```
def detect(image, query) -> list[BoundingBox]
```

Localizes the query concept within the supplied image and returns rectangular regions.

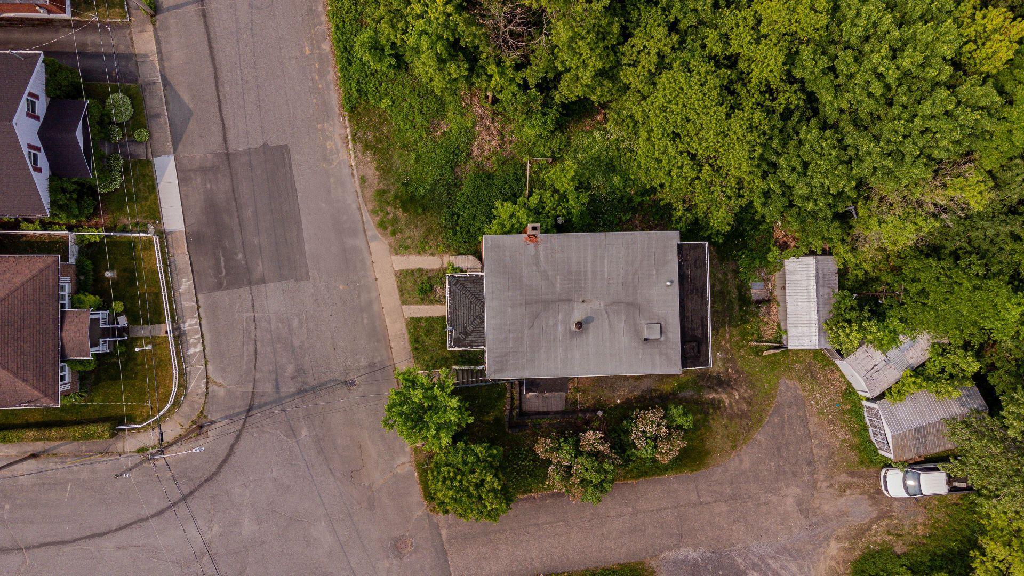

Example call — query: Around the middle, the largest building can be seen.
[444,224,713,394]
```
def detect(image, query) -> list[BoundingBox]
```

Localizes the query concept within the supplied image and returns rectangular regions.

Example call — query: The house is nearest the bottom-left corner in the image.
[0,254,139,408]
